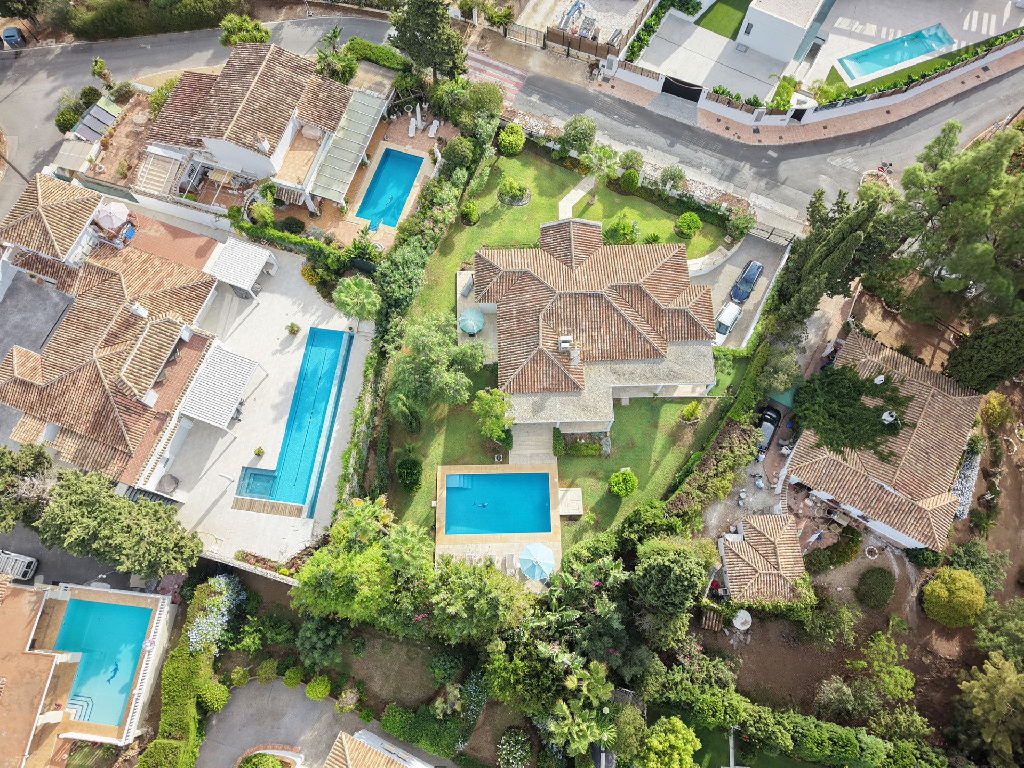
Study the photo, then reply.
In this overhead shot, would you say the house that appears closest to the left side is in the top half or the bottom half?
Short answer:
bottom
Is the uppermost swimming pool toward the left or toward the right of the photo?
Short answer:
right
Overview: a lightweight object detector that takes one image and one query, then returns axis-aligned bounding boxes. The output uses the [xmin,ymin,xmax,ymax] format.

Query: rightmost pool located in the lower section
[436,463,561,545]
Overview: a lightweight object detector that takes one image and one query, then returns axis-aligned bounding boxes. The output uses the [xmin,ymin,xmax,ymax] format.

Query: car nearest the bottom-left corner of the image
[0,547,38,576]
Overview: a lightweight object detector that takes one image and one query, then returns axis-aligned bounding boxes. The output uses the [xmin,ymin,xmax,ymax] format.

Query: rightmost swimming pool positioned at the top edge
[829,20,962,88]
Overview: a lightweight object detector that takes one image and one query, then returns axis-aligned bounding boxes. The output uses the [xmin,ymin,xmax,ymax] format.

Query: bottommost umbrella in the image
[519,544,555,580]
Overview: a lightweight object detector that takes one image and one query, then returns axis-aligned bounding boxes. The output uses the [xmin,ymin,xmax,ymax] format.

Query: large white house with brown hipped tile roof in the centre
[473,214,717,434]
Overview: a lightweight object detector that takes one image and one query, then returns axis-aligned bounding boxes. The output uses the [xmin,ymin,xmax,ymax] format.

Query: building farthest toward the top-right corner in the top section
[737,0,821,66]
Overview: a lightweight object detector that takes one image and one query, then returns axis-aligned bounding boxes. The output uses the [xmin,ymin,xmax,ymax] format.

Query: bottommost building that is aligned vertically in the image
[0,576,77,768]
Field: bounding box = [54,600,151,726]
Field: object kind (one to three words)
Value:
swimming pool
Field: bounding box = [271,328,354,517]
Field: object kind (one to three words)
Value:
swimming pool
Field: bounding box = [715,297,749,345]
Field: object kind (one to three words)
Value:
car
